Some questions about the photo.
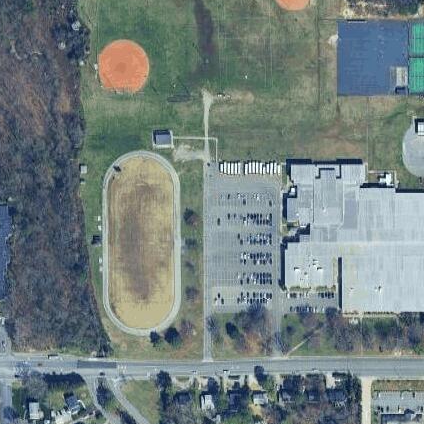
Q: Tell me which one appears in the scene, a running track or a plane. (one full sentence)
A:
The one in the frame is a running track.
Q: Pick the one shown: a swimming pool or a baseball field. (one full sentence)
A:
I can see a baseball field in this picture.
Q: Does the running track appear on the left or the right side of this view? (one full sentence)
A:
The running track is on the left side of the image.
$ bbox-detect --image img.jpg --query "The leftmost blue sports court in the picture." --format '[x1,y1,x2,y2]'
[337,20,408,95]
